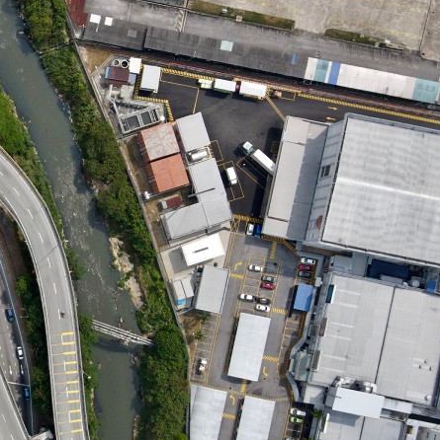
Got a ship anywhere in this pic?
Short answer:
No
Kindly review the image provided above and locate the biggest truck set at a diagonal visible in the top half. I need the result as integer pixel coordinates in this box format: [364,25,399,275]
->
[237,142,272,174]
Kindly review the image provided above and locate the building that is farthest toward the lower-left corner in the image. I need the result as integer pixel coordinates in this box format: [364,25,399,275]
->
[171,276,193,300]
